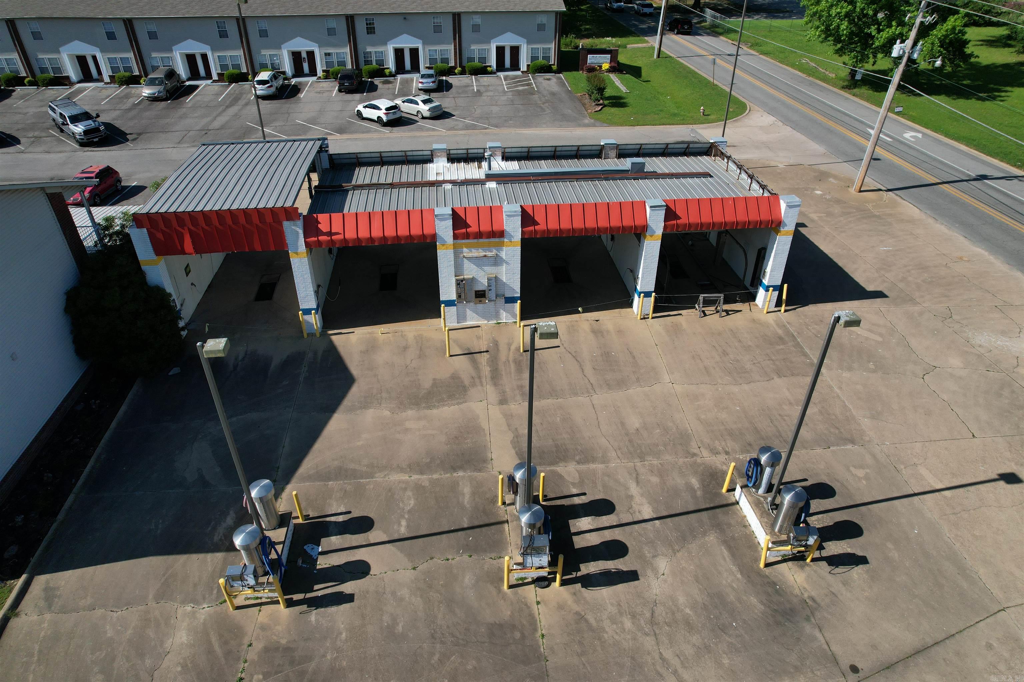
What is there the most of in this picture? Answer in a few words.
paved ground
